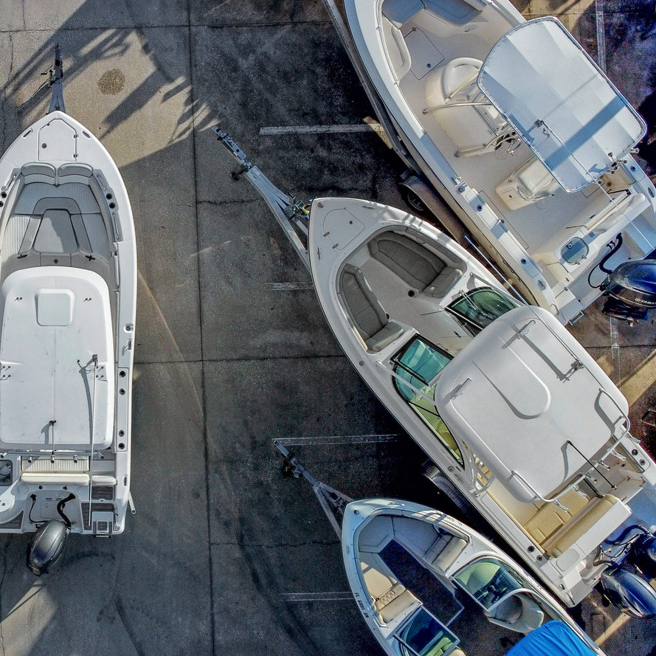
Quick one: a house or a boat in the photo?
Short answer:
boat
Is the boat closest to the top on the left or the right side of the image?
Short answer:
right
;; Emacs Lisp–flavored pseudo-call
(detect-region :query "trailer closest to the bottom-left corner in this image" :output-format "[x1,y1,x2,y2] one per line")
[258,428,361,595]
